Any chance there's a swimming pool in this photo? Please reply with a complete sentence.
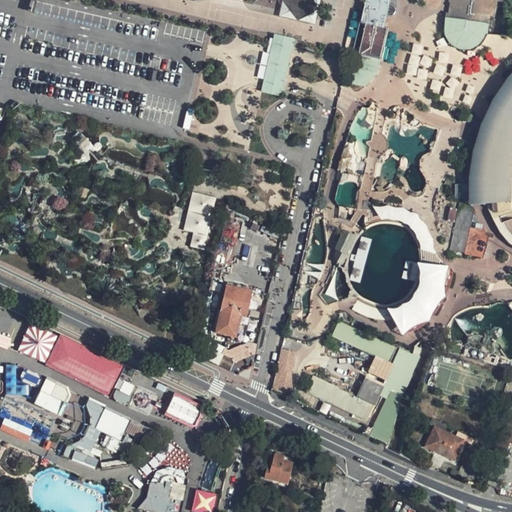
Yes, the image includes a swimming pool.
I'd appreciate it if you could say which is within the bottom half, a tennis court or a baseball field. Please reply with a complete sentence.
Looking within the bottom half, you will find a tennis court.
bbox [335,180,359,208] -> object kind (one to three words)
swimming pool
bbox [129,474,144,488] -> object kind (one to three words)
vehicle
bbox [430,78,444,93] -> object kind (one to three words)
umbrella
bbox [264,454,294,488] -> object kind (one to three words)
house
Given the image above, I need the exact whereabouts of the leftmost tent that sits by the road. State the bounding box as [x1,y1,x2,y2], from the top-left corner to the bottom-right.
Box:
[18,327,58,364]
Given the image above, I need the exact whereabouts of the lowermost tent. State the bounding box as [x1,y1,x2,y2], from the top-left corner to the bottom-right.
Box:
[191,490,217,512]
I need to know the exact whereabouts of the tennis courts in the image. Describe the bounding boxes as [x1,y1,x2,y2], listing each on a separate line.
[428,360,494,400]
